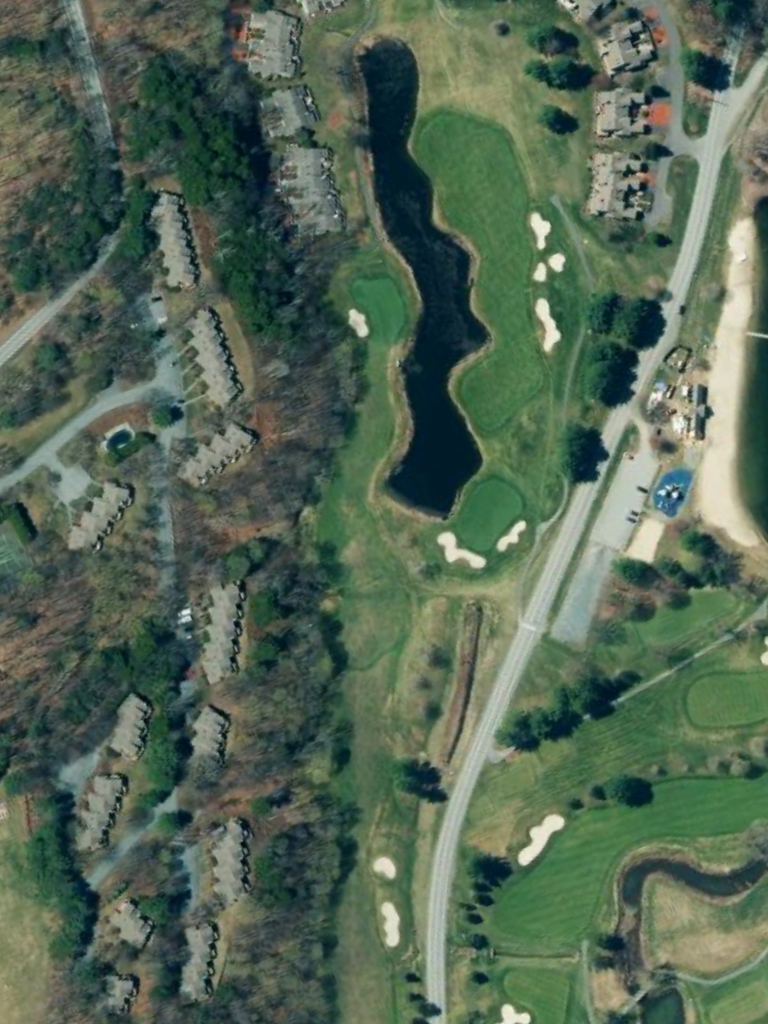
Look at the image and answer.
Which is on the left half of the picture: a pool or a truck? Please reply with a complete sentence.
The feature located on the left half of the picture is a pool.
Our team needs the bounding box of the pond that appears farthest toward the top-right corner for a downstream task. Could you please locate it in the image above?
[361,41,492,516]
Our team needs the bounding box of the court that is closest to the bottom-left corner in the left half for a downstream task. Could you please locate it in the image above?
[0,519,36,598]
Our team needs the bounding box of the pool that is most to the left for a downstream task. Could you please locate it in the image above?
[100,422,137,454]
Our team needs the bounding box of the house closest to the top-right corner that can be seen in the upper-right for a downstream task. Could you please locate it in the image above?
[610,15,659,77]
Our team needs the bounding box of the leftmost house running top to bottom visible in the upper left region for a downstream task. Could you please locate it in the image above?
[155,188,200,290]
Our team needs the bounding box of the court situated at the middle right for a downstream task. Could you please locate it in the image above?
[626,515,665,565]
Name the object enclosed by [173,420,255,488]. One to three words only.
house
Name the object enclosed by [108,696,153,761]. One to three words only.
house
